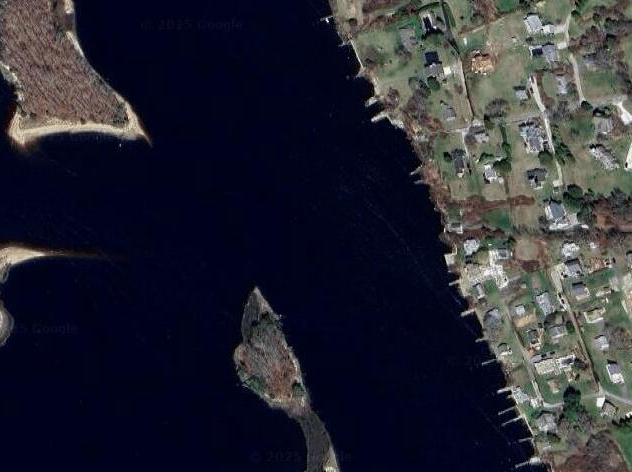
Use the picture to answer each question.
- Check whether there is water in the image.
Yes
